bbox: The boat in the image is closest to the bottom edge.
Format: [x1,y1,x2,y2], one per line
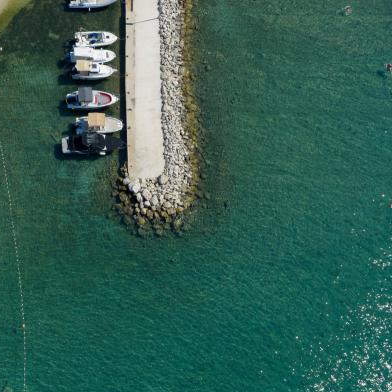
[57,133,128,158]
